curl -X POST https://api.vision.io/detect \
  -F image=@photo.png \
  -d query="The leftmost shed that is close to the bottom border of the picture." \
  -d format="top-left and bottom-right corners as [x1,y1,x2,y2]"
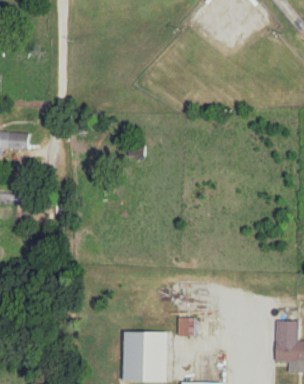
[124,332,174,382]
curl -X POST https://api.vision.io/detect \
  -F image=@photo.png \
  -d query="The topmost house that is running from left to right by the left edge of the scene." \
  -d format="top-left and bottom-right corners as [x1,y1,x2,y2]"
[0,132,44,150]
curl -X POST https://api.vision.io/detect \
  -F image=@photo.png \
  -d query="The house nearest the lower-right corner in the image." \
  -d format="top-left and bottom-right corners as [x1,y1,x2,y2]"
[274,321,304,374]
